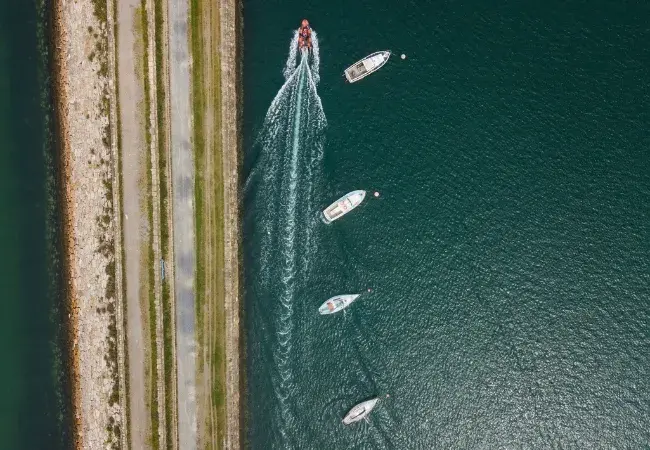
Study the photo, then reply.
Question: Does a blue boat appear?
No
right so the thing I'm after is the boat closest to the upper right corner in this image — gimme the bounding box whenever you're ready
[343,48,393,83]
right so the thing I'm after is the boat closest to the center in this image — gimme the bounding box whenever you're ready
[321,191,366,223]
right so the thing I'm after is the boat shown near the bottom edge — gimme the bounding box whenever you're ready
[343,397,378,437]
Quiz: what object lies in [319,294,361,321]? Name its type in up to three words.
boat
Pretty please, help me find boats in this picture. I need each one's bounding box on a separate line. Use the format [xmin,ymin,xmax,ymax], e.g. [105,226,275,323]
[343,48,393,83]
[298,18,312,50]
[321,191,366,223]
[343,397,378,437]
[319,294,361,321]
